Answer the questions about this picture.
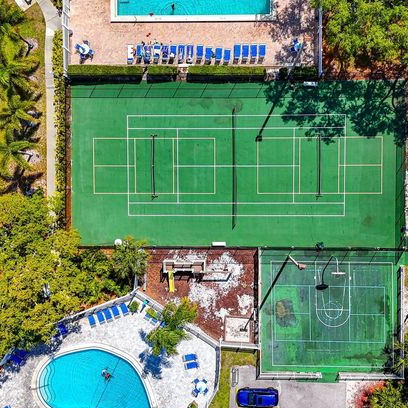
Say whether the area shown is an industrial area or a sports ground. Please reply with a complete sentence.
It's a sports ground.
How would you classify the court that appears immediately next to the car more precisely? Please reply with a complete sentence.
What you see as the court that appears immediately next to the car is a basketball court.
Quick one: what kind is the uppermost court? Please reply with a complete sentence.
Specifically, the uppermost court is a tennis court.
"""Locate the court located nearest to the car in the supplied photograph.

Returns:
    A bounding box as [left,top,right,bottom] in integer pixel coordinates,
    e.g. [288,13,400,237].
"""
[260,250,402,382]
